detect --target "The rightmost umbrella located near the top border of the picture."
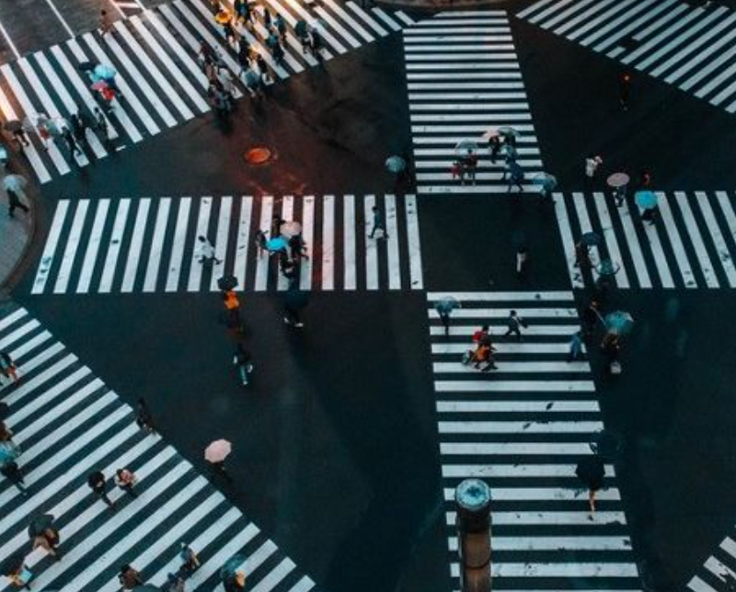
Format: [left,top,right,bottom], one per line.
[293,21,312,34]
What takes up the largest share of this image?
paved ground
